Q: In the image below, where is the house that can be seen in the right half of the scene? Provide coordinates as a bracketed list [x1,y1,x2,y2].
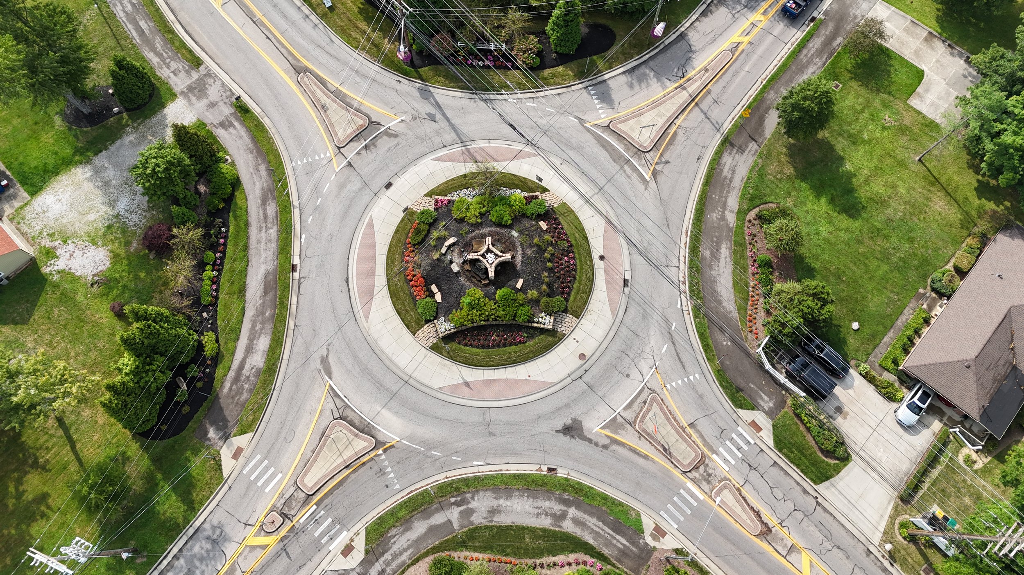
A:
[893,226,1024,440]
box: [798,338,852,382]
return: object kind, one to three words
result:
car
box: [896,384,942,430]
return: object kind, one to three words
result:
car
